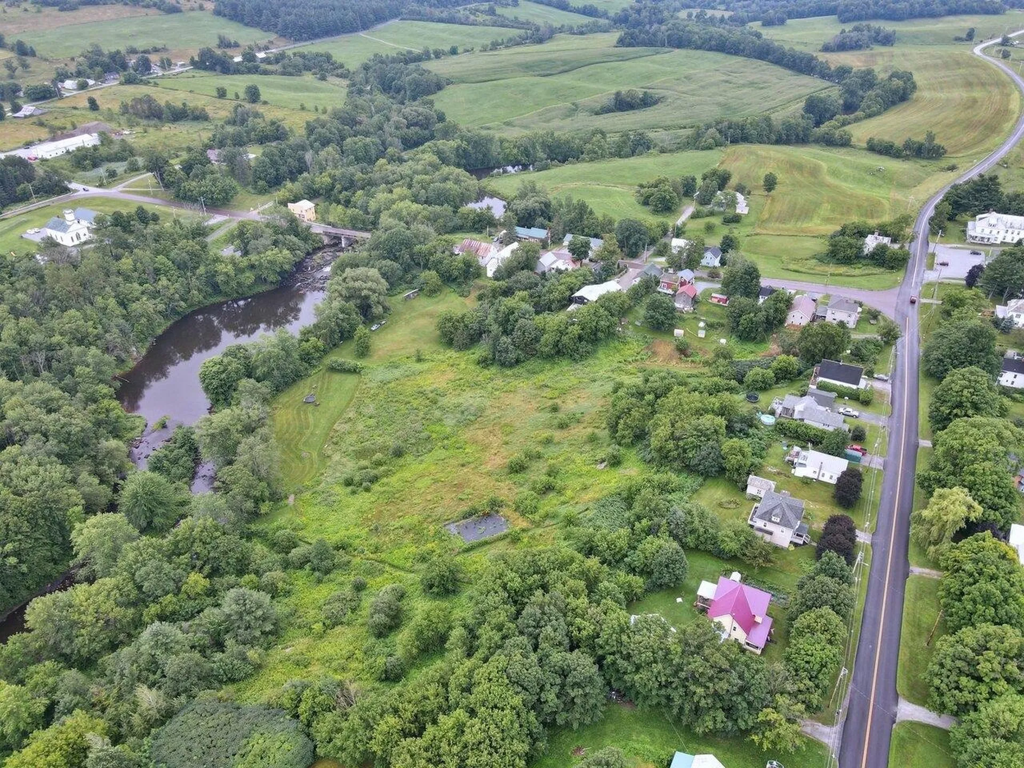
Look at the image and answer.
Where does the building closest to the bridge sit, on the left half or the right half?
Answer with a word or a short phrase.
left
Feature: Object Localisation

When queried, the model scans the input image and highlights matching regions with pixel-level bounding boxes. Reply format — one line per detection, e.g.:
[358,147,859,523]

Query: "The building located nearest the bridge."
[292,198,320,221]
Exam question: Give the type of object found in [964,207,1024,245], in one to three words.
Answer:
house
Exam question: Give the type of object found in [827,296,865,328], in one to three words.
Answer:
house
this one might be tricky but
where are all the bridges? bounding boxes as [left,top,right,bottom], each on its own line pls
[309,221,395,244]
